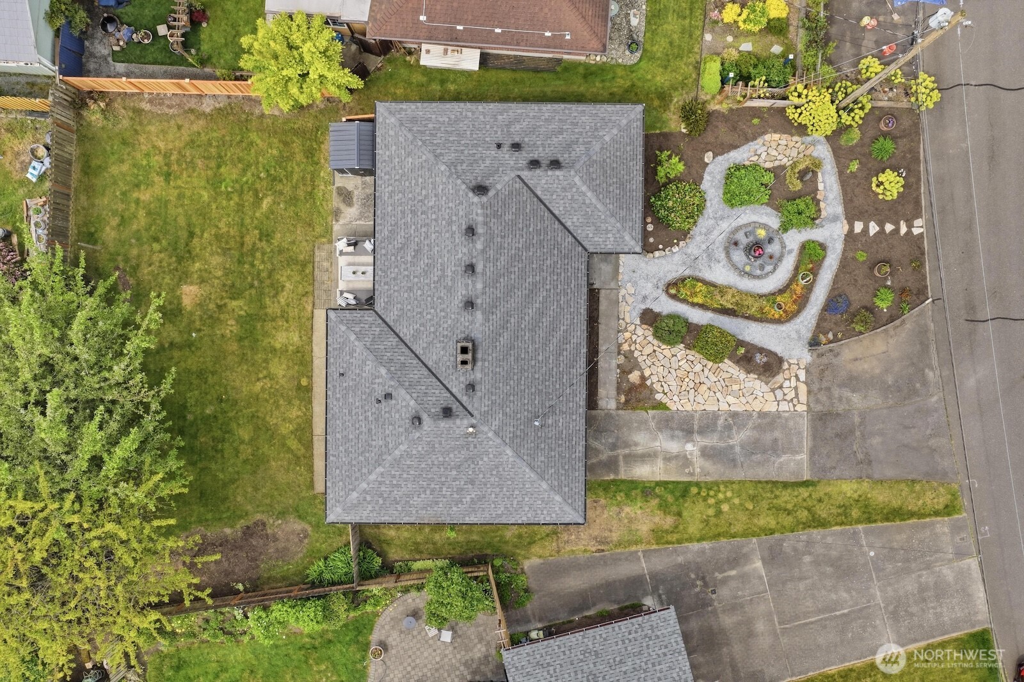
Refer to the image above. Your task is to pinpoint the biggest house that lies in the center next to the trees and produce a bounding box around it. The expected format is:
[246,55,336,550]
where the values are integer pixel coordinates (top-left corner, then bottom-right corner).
[325,101,645,526]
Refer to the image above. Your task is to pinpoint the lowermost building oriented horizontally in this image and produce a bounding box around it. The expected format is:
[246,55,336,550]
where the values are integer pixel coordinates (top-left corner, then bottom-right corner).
[501,602,697,682]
